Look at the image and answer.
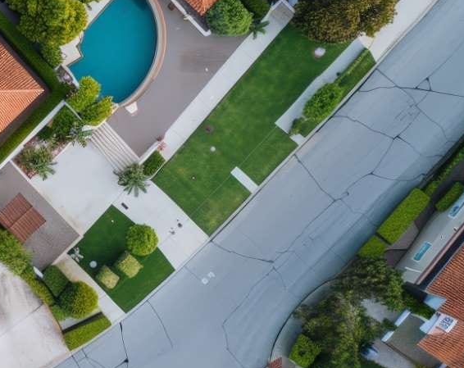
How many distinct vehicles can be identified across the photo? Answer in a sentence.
There are no vehicles in the image.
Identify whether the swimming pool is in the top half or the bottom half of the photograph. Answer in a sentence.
The swimming pool is in the top half of the image.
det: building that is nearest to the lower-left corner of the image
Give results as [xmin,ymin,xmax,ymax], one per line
[0,193,46,243]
